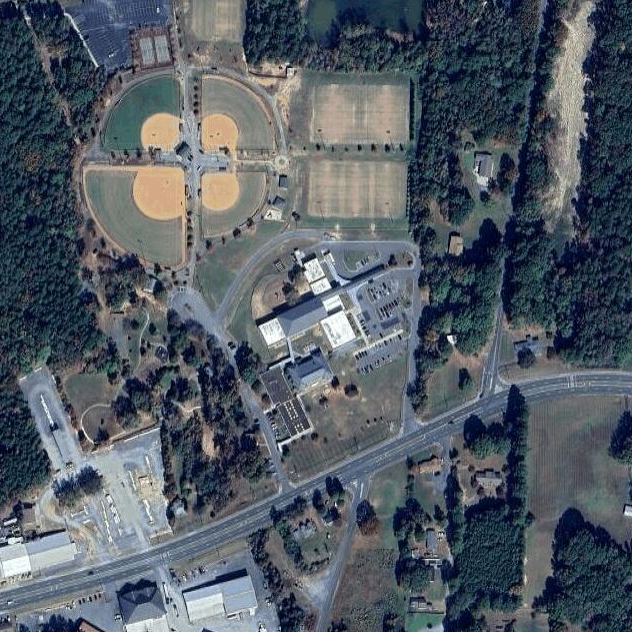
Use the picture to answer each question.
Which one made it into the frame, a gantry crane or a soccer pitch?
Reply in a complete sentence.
This aerial view contains a soccer pitch.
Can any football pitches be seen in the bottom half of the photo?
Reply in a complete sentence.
No, I see no football pitch in the bottom half of the photo.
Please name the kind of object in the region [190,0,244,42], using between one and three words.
sports field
